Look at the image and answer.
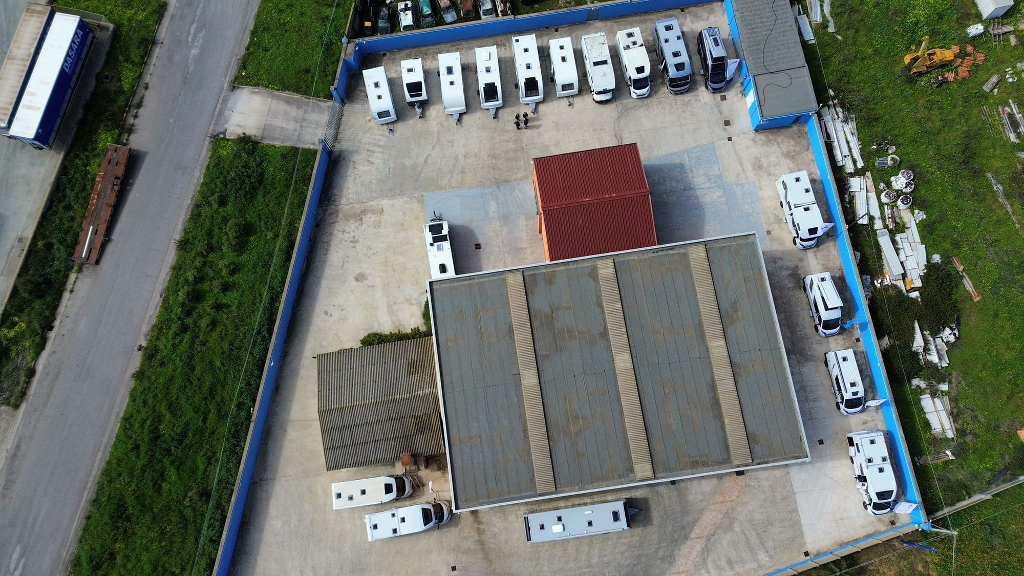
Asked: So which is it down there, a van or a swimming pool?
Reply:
van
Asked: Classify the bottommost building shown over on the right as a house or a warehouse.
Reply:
warehouse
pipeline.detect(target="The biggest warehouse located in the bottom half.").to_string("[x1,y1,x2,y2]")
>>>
[427,233,809,512]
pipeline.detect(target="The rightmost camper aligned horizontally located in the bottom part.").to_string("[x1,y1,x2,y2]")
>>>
[524,500,644,543]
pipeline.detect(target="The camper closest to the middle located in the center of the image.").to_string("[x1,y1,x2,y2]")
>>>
[422,211,457,280]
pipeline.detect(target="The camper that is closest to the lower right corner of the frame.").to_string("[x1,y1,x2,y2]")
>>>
[846,430,899,514]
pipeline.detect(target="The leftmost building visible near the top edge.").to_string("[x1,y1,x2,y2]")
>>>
[722,0,818,131]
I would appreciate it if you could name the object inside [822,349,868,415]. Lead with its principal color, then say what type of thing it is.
white van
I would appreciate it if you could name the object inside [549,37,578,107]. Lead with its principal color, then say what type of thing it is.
white camper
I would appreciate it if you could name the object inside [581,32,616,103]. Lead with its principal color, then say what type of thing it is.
white camper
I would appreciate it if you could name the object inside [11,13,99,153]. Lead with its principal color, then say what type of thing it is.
white trailer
